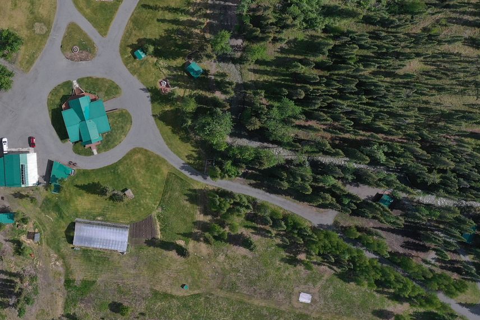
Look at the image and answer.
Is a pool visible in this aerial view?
No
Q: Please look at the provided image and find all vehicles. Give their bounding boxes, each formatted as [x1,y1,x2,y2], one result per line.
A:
[30,136,36,148]
[2,137,8,154]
